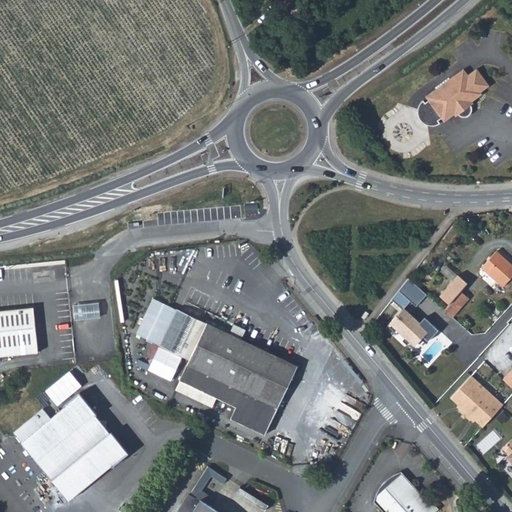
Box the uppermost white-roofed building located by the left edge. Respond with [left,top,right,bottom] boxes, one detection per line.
[0,308,38,358]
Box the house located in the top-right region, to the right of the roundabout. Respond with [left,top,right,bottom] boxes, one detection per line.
[418,68,490,126]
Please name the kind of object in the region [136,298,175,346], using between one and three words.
greenhouse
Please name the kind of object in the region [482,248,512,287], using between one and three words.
house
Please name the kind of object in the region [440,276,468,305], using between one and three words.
house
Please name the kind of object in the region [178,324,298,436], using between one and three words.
building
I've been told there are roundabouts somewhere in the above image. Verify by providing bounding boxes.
[226,80,326,181]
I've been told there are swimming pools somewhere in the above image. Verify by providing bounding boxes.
[417,332,453,368]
